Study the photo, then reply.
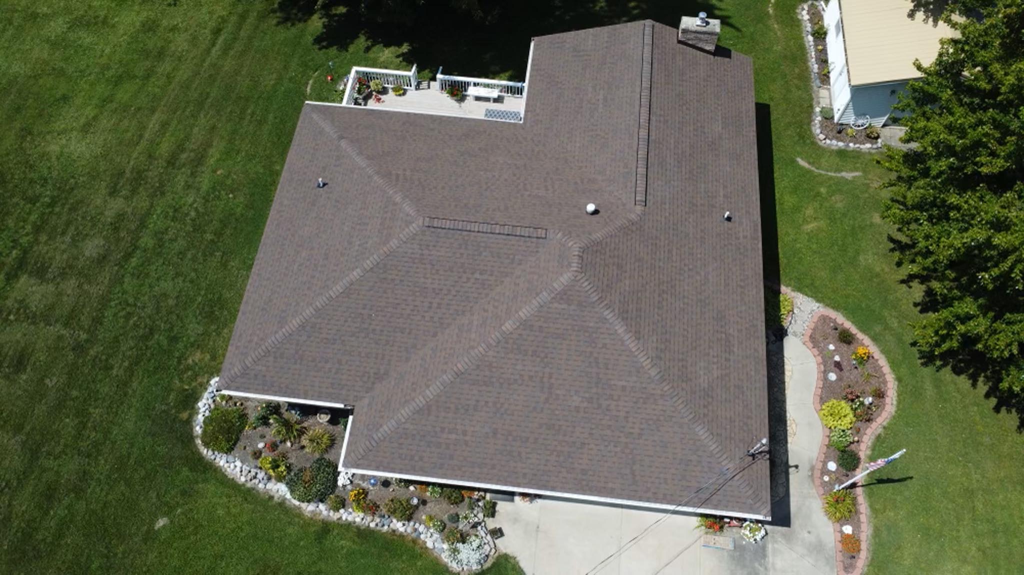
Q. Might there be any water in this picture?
No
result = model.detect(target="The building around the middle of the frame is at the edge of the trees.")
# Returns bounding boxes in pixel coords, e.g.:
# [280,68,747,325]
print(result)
[218,14,771,525]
